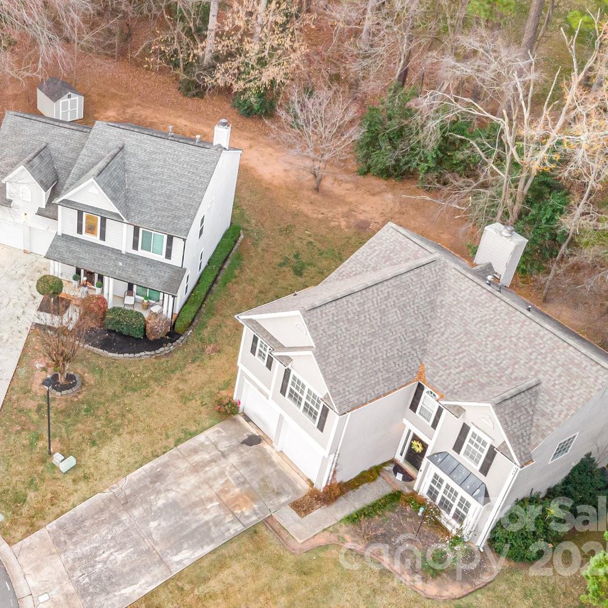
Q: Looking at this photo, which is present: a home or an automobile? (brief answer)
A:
home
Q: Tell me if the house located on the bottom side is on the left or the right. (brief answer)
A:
right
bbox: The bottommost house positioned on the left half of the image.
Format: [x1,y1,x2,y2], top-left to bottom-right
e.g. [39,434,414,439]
[0,109,244,328]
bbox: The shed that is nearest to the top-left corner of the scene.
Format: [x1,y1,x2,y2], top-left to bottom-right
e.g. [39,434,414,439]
[41,77,86,122]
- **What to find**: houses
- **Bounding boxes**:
[231,218,608,551]
[0,109,244,328]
